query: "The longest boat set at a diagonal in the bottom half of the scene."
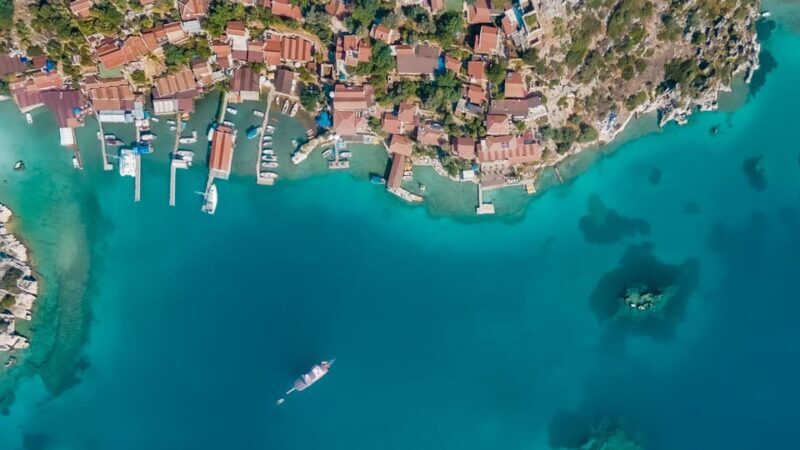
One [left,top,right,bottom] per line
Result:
[287,365,334,393]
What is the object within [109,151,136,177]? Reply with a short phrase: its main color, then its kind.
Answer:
white boat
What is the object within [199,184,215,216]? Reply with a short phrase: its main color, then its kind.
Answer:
white boat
